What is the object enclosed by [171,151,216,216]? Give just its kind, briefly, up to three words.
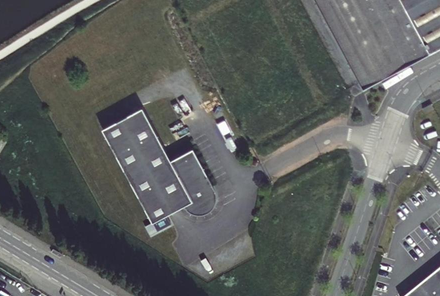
building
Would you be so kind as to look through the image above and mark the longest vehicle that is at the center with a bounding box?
[217,120,234,146]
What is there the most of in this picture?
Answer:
grass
